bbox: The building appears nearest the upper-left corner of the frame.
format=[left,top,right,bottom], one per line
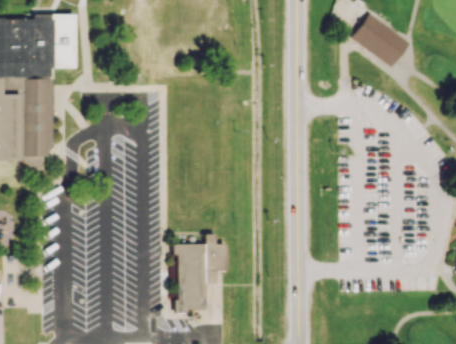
[0,14,79,170]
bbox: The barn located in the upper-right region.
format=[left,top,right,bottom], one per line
[352,12,410,67]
